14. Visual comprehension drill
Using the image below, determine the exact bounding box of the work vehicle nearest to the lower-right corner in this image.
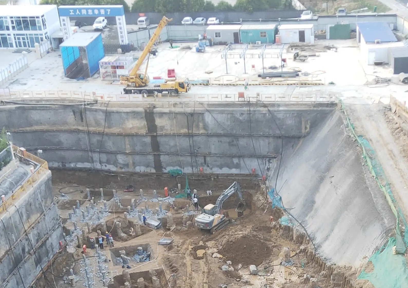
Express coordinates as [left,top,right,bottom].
[195,166,241,234]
